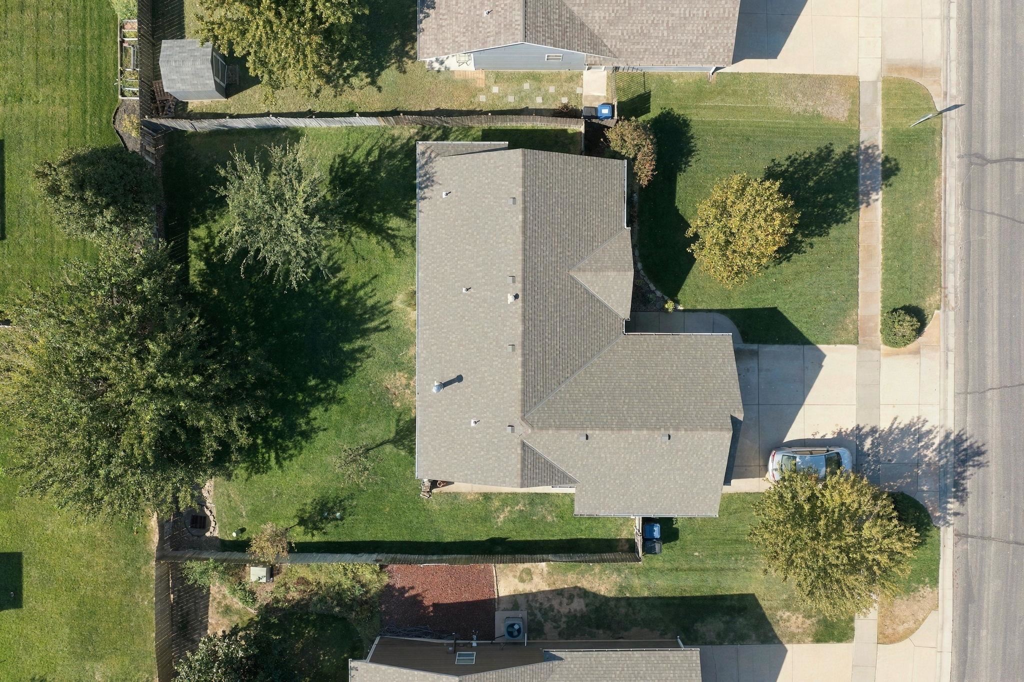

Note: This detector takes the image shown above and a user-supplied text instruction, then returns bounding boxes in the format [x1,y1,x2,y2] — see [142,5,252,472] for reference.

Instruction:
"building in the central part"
[417,142,745,516]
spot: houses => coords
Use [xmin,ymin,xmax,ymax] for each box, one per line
[418,0,741,80]
[349,631,703,682]
[417,142,745,516]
